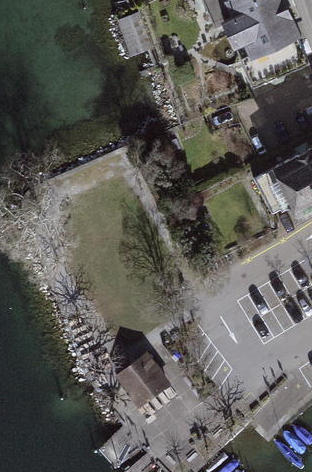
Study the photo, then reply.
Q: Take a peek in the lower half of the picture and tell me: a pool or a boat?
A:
boat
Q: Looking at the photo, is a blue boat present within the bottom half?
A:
Yes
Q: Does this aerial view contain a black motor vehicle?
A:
Yes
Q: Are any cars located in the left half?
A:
No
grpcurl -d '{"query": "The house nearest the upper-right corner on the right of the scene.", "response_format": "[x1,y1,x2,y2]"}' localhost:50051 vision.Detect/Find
[224,0,302,63]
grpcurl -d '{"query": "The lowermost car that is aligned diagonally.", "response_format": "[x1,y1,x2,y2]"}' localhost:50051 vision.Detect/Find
[256,322,273,344]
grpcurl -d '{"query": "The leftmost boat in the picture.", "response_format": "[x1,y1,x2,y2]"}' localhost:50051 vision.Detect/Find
[208,454,229,472]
